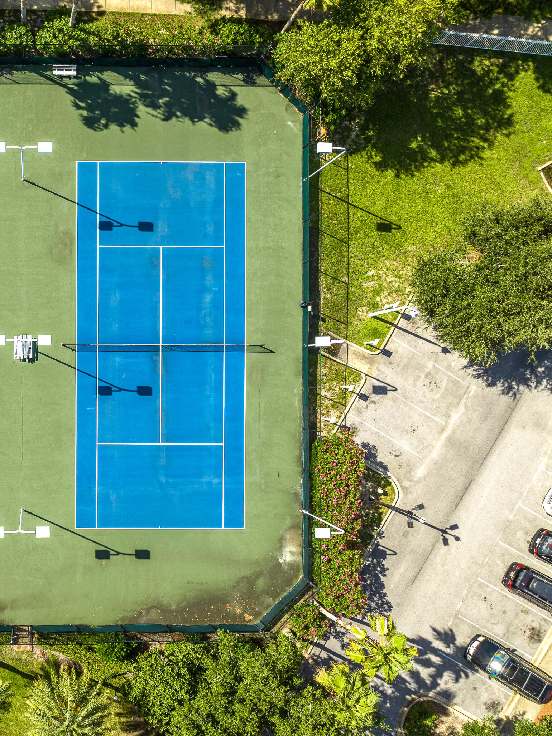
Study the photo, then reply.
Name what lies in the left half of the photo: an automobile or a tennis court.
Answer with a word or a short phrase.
tennis court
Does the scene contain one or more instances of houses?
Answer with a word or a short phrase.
No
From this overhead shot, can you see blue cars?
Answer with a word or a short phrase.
No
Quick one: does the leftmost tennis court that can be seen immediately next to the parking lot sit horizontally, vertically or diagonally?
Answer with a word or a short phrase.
vertically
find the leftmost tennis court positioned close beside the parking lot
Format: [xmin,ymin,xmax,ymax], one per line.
[76,160,247,529]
